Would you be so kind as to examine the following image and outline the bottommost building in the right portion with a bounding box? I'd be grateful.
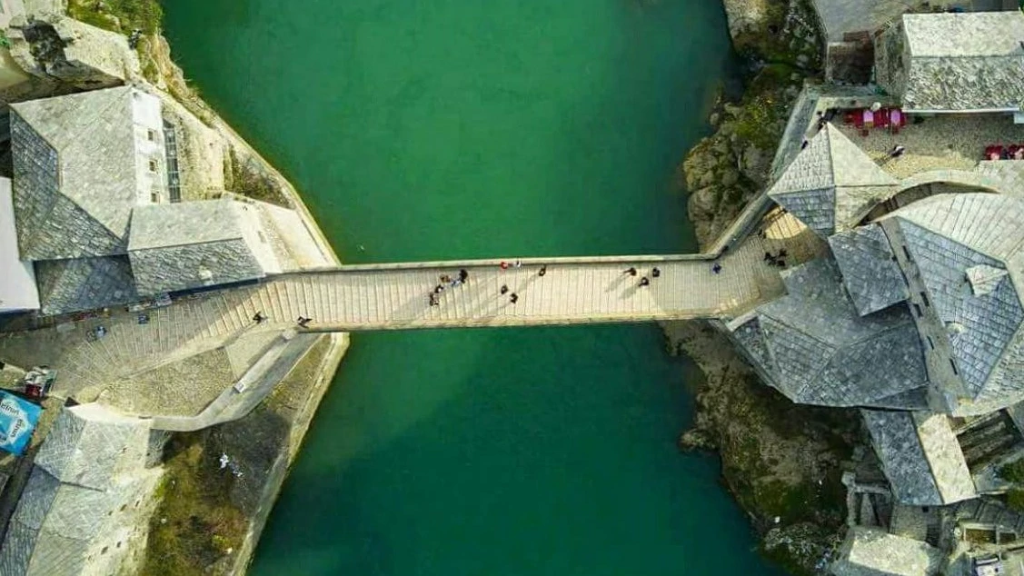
[813,518,939,576]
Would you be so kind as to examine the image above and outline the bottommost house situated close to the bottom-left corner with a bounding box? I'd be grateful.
[0,462,168,576]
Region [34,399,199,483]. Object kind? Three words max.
house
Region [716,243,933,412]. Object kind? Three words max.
house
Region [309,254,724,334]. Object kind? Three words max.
bridge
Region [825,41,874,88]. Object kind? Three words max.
shed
